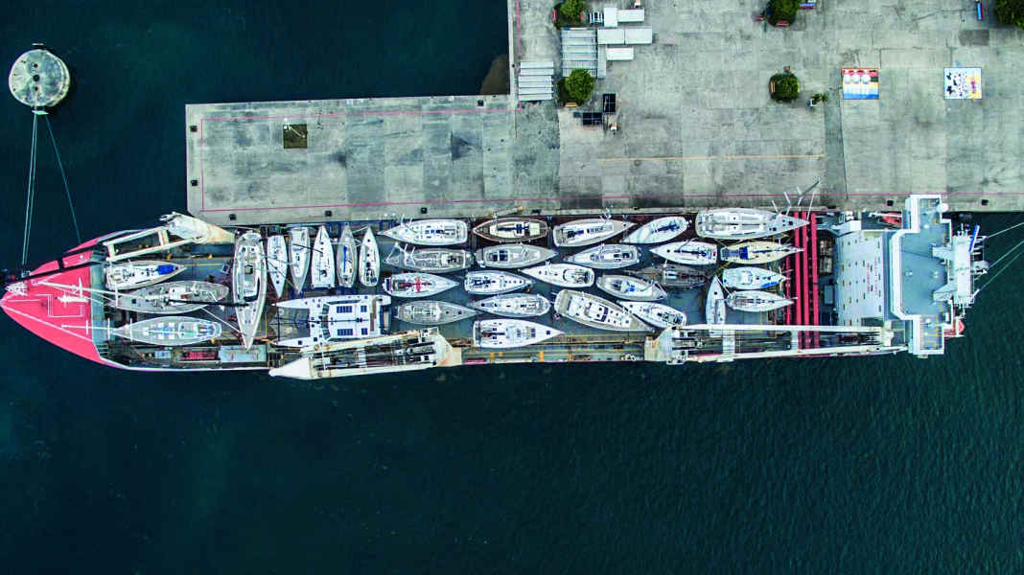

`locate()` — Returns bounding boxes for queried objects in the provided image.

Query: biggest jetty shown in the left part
[186,93,559,228]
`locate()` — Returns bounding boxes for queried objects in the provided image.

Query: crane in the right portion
[643,325,907,365]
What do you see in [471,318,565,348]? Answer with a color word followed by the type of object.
white boat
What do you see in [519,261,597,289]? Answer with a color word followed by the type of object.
white boat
